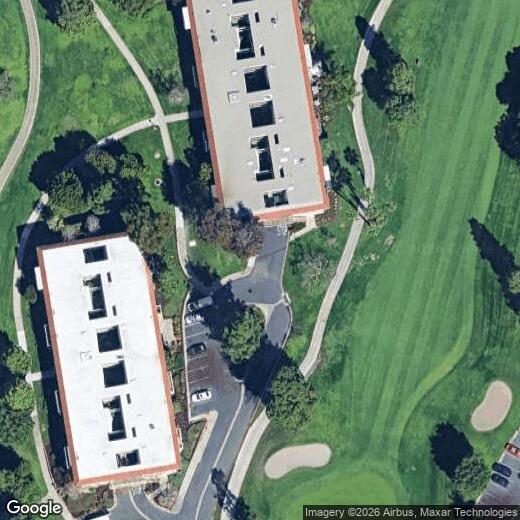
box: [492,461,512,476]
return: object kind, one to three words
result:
car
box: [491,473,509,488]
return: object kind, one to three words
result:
car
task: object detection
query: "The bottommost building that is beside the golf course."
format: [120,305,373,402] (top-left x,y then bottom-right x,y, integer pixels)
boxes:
[29,228,185,492]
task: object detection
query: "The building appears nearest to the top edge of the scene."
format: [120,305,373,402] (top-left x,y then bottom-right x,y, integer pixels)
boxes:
[177,0,333,232]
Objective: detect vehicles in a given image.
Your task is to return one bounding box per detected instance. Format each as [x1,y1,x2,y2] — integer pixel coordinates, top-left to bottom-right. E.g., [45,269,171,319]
[187,298,212,311]
[492,461,512,476]
[187,343,207,355]
[185,313,205,324]
[505,443,520,458]
[191,391,211,401]
[491,473,509,488]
